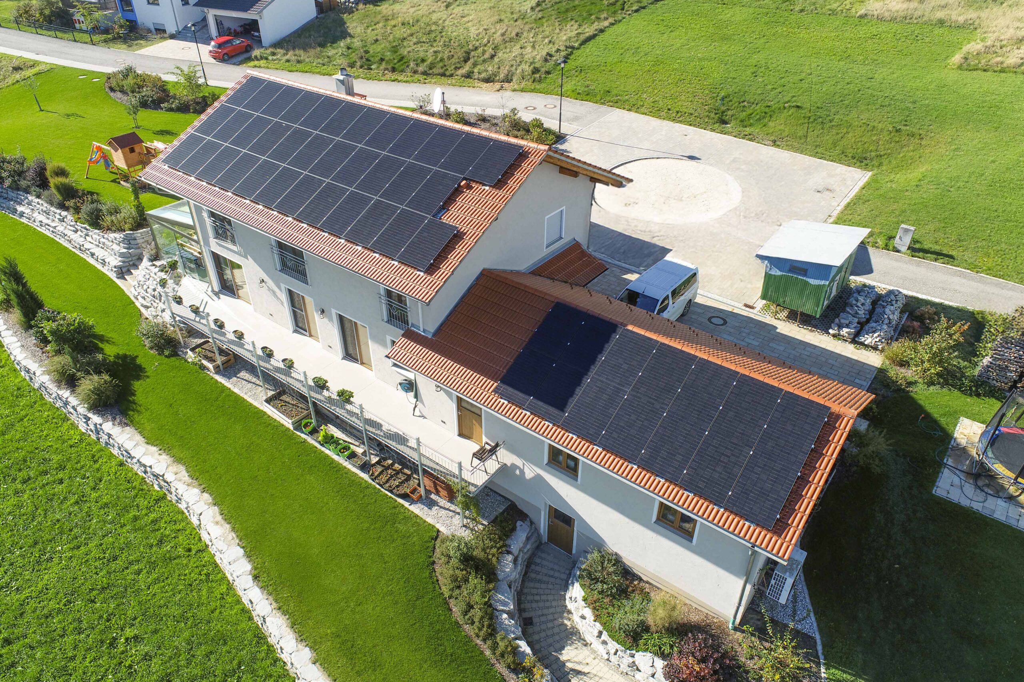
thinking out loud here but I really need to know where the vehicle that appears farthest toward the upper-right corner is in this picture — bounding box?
[622,258,701,319]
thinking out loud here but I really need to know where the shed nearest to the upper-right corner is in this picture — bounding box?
[752,225,869,323]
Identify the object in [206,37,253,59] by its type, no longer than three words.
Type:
car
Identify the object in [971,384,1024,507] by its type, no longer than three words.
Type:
trampoline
